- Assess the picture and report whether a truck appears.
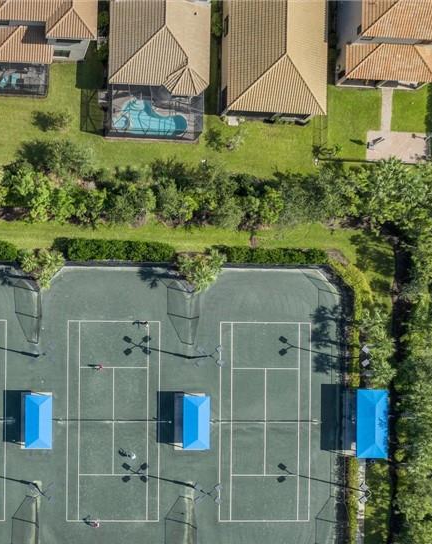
No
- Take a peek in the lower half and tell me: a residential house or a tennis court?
tennis court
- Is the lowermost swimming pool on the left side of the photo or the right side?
left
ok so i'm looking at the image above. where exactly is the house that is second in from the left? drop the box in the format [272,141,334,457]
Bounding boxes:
[108,0,209,105]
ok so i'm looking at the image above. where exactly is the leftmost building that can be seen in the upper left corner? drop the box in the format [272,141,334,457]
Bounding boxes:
[0,0,97,71]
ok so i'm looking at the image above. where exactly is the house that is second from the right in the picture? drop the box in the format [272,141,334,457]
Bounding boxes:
[220,0,328,120]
